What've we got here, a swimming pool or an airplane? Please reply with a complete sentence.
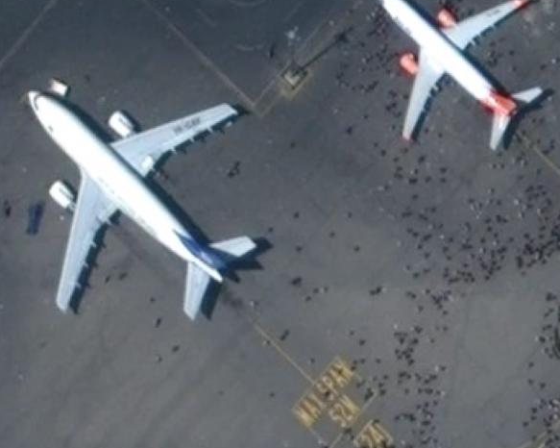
There is an airplane in the scene.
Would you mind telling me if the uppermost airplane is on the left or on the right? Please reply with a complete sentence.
You can find the uppermost airplane on the right side of the picture.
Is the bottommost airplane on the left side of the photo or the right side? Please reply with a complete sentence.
It is on the left.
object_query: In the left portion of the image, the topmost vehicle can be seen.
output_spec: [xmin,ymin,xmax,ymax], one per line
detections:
[46,82,70,100]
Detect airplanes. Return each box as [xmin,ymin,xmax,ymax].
[380,0,545,151]
[27,91,256,319]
